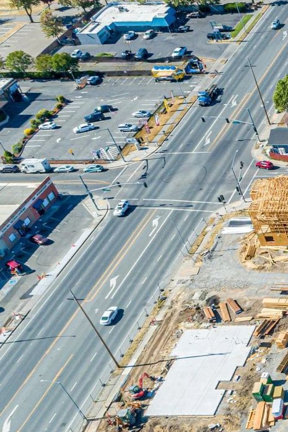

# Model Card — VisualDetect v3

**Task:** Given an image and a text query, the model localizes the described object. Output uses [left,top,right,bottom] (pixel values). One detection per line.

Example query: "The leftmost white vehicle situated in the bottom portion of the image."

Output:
[99,307,118,325]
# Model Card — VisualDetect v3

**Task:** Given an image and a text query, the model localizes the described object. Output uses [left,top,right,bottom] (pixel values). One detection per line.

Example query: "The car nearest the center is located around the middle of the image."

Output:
[113,199,131,215]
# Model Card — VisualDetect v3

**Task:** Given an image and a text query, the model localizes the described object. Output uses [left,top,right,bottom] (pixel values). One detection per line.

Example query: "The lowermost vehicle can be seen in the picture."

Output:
[101,397,152,431]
